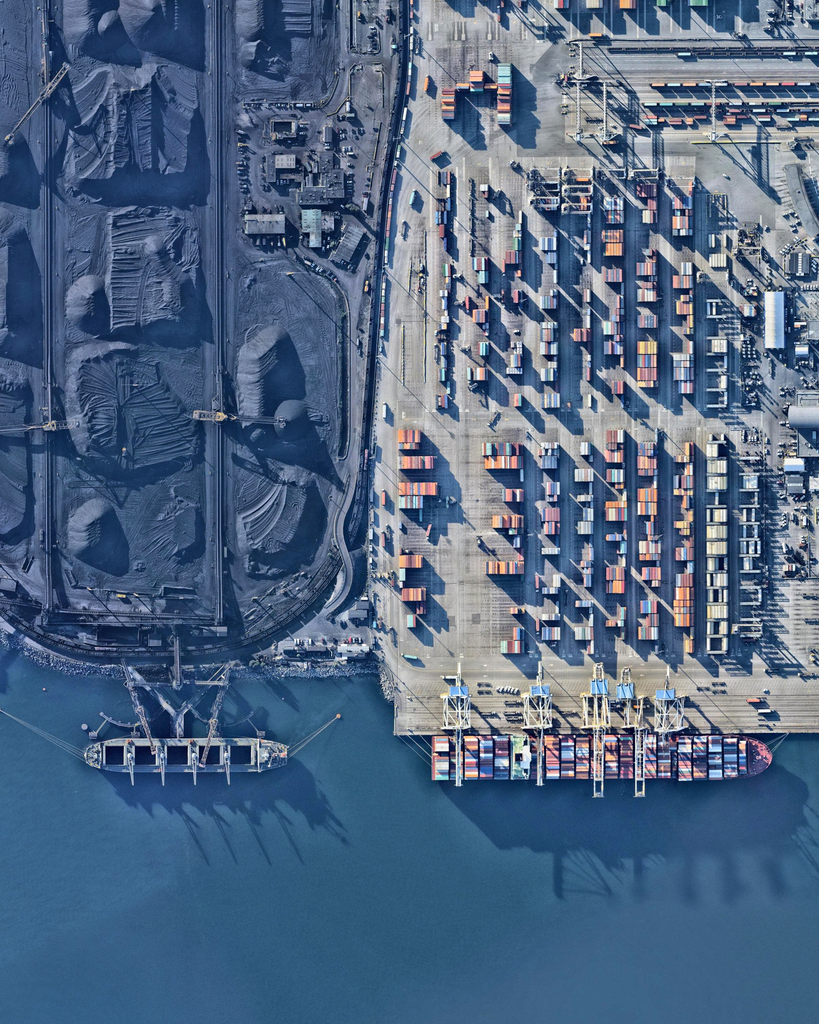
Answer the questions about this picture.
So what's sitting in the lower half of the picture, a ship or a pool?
ship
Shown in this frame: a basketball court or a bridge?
bridge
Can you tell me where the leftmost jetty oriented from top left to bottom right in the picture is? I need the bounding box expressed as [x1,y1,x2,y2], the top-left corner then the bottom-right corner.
[126,664,181,719]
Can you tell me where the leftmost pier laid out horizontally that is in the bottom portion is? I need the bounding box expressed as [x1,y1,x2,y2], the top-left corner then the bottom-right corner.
[99,708,166,728]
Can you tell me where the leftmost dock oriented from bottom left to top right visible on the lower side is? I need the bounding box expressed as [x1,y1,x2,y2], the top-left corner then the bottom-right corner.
[180,659,235,716]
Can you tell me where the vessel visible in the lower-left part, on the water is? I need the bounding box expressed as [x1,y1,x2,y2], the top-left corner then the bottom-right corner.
[84,738,287,786]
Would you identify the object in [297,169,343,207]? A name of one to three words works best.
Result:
building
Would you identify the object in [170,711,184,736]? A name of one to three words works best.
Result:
pier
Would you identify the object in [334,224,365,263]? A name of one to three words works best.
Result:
building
